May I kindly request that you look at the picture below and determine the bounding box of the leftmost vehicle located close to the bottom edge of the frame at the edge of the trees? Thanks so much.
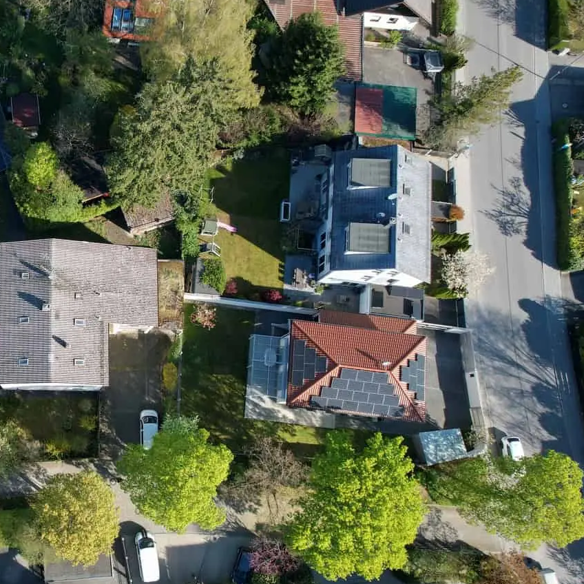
[131,529,161,584]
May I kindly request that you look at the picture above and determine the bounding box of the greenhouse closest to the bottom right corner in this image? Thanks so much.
[410,429,467,465]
